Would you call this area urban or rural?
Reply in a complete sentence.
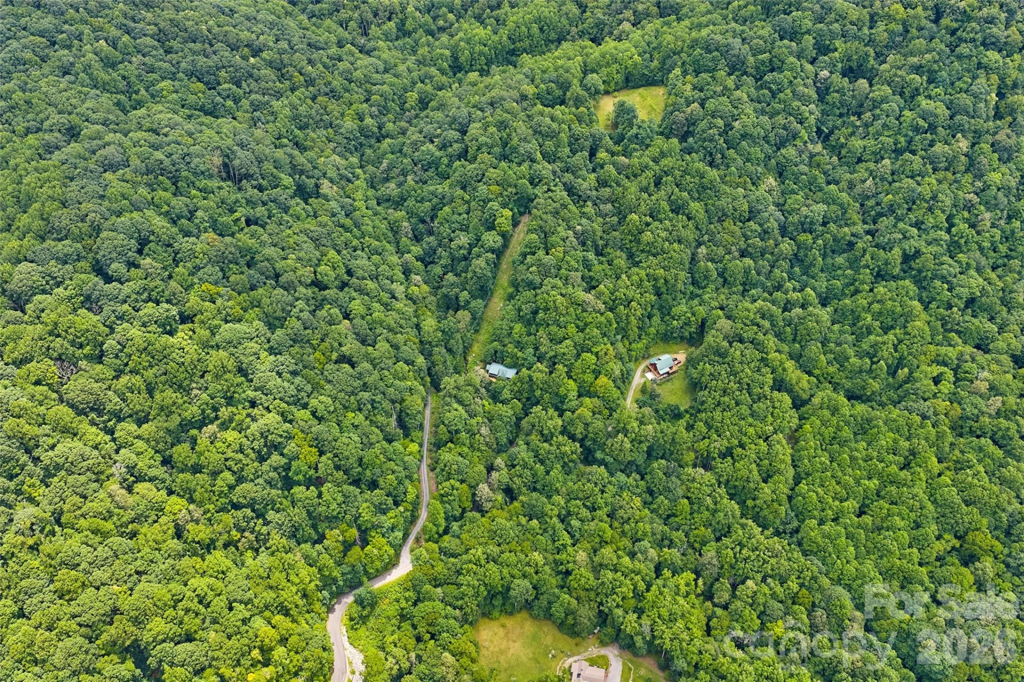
The area shown here is rural.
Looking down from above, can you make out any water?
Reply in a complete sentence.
No, water can't be seen anywhere here.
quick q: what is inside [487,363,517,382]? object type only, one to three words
building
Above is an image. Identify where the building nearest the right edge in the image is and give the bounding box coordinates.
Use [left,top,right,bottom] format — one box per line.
[648,354,685,380]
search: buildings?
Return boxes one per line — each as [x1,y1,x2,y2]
[648,354,685,380]
[487,363,517,382]
[571,659,607,682]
